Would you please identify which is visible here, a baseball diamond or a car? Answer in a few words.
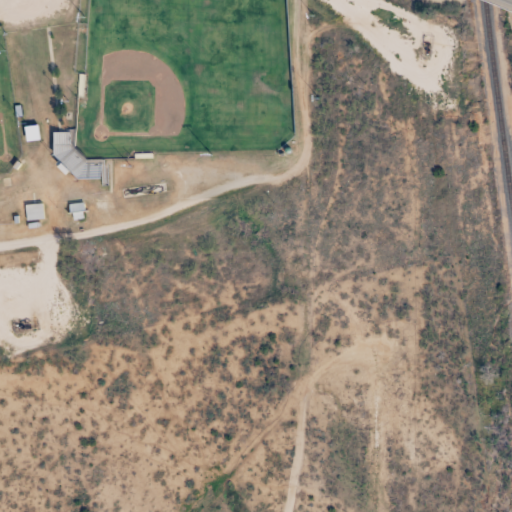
baseball diamond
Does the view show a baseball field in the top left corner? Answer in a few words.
Yes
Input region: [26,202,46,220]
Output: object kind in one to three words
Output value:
barn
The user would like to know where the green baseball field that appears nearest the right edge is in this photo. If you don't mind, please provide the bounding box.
[76,0,294,158]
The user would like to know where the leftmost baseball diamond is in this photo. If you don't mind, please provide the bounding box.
[0,27,20,176]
